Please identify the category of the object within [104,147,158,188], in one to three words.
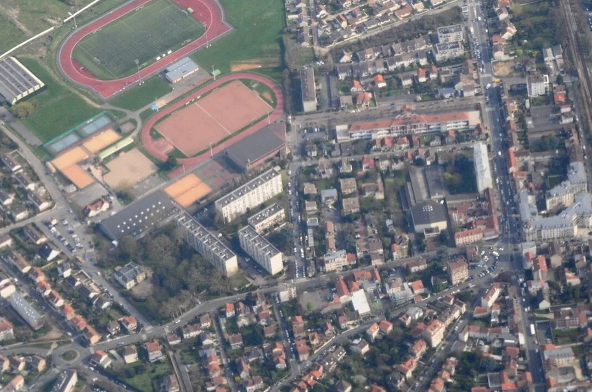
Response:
sports field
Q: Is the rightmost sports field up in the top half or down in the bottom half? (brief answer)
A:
top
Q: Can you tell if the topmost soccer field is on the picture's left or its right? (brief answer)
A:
left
